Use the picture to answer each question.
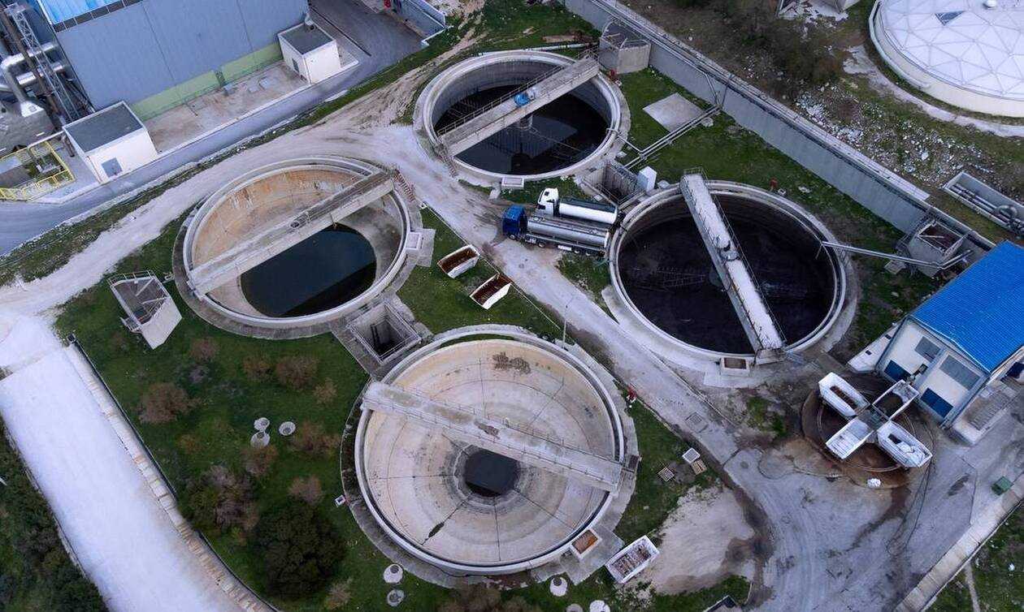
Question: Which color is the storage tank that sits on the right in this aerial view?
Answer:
white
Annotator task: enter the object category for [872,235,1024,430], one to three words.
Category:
building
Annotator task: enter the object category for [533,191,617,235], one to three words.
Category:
truck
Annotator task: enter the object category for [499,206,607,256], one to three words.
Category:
truck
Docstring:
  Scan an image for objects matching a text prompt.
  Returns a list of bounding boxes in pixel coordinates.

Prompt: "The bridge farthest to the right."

[678,163,783,356]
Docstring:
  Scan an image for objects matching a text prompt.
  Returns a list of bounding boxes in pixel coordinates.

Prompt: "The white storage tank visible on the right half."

[866,0,1024,120]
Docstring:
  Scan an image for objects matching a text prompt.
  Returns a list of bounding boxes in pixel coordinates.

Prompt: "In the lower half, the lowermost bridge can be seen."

[356,379,631,495]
